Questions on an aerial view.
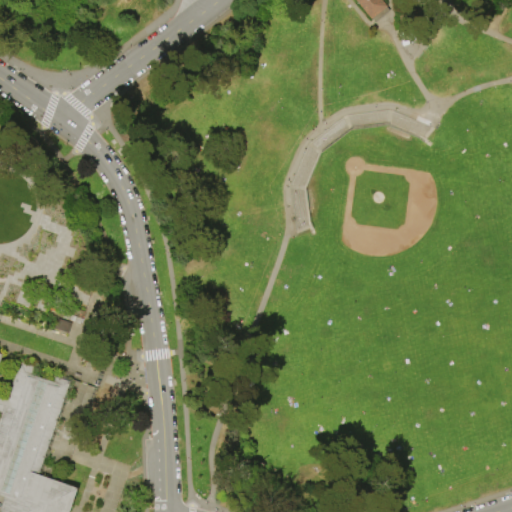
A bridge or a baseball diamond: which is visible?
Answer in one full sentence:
It is a baseball diamond that can be seen here.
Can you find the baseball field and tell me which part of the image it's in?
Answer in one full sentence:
Look in the right portion of the view to spot the baseball field.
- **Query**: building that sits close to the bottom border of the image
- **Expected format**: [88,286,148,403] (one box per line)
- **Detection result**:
[0,364,77,512]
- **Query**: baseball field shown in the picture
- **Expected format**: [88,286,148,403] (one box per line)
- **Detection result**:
[342,156,438,256]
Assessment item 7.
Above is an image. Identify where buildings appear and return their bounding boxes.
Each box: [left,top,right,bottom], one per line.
[54,318,73,334]
[0,364,77,512]
[357,0,390,21]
